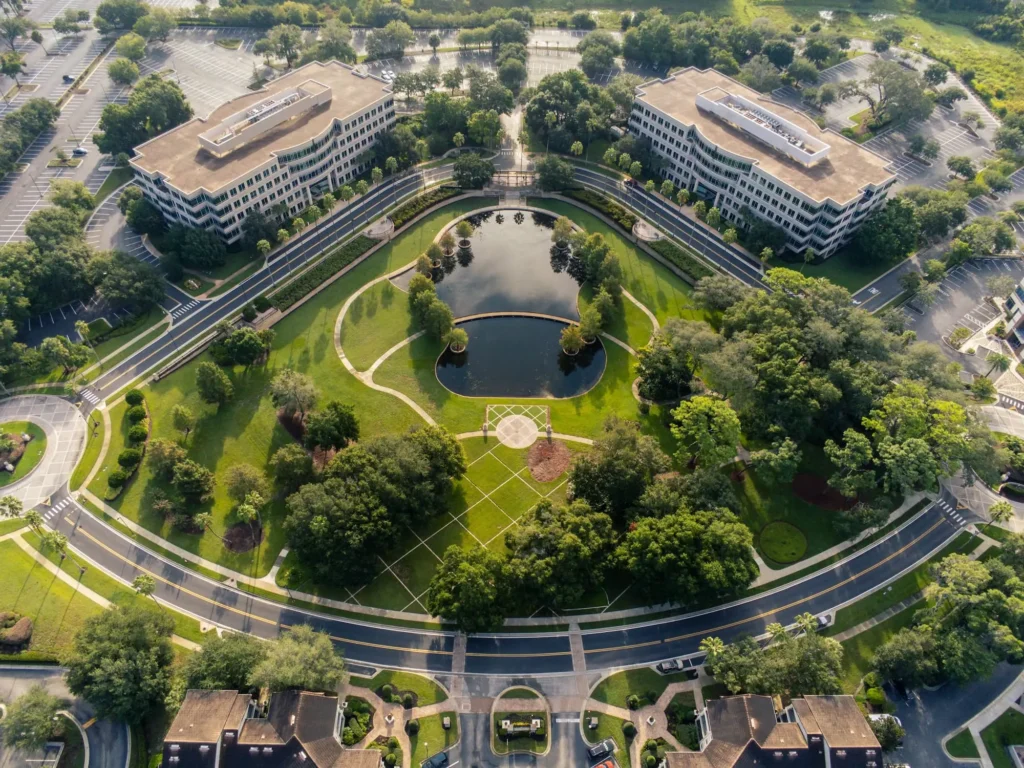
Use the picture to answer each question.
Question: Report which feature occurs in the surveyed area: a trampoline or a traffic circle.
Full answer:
It is a traffic circle that can be seen here.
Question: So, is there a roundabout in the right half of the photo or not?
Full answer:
Yes, in the right half of the photo there is a roundabout.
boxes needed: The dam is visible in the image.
[448,309,582,326]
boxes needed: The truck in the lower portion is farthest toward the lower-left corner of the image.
[417,746,448,768]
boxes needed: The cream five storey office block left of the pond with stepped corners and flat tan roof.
[129,59,397,254]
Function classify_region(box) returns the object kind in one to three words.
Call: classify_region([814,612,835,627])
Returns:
car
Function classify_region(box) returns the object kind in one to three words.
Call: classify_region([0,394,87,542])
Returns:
roundabout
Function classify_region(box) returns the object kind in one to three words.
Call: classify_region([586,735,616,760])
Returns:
truck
